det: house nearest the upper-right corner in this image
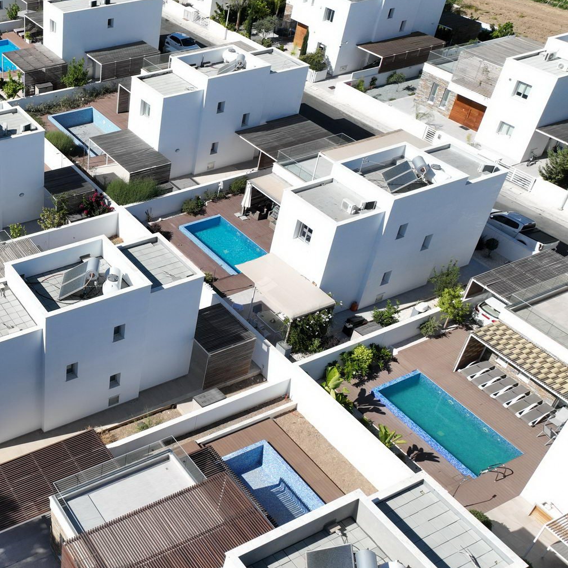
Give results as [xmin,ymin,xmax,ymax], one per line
[422,31,568,159]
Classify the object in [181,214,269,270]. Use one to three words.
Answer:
swimming pool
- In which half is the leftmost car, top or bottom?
top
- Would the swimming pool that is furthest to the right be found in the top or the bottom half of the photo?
bottom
